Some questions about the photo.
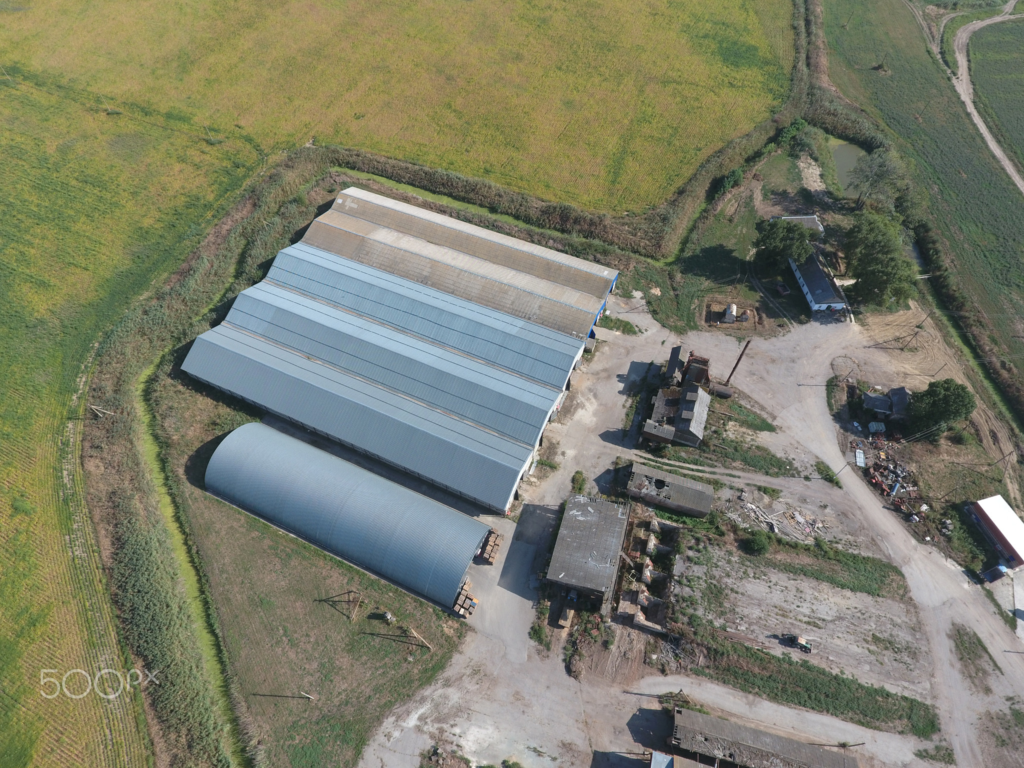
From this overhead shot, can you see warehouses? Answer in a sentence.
Yes, this view includes a warehouse.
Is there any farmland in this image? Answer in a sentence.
Yes, the picture does contain farmland.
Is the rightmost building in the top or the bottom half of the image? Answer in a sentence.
The rightmost building sits in the bottom half of the picture.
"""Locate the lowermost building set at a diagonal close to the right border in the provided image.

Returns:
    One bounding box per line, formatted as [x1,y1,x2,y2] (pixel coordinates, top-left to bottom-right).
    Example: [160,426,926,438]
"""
[968,495,1024,567]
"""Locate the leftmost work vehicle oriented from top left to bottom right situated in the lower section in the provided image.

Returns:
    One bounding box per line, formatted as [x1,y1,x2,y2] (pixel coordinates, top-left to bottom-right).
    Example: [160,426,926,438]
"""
[782,631,814,655]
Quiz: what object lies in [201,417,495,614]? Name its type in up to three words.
hangar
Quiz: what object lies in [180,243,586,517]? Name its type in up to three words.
warehouse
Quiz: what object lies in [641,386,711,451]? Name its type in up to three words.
building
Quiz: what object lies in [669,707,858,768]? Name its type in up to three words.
shed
